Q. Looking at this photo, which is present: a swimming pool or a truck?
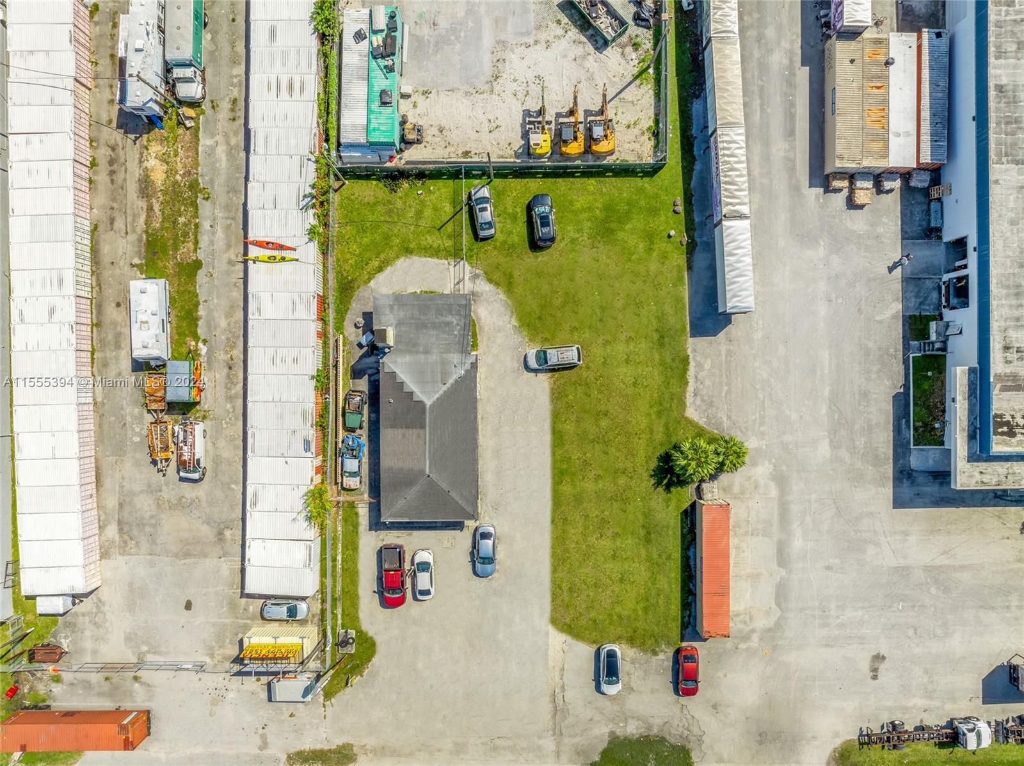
truck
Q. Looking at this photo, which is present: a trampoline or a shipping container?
shipping container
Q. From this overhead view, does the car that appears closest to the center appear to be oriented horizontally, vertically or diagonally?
horizontally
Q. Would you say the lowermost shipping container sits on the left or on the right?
left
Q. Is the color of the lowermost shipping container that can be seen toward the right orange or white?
orange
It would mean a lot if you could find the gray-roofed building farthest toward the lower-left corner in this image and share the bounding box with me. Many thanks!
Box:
[373,294,478,521]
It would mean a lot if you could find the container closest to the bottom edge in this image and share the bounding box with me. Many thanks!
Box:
[0,702,153,752]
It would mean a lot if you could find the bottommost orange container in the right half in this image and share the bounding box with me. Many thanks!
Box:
[695,497,730,639]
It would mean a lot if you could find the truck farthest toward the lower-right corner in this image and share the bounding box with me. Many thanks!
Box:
[993,716,1024,754]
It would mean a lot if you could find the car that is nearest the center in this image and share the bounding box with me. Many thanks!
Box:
[526,346,582,374]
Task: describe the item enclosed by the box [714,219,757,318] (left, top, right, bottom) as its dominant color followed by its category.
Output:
white trailer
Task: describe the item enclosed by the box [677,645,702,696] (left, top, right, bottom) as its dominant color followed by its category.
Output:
red car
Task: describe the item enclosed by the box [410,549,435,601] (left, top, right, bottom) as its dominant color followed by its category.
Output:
white car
